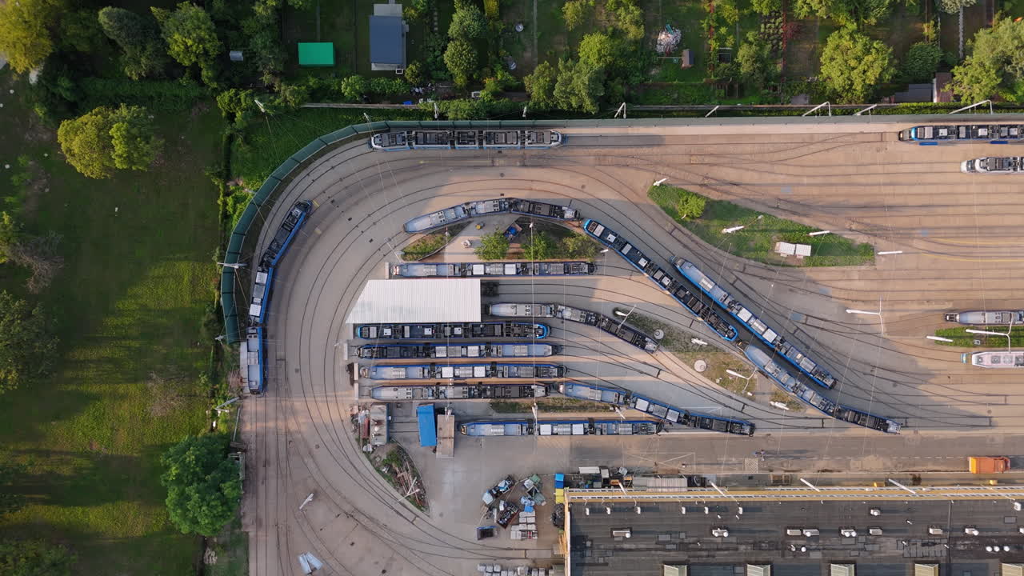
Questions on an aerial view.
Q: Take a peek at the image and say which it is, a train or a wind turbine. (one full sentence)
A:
It is a train that can be seen here.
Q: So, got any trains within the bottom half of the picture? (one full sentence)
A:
Yes, within the bottom half of the picture there is a train.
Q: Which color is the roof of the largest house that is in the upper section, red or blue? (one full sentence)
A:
From above, the roof of the largest house that is in the upper section appears blue.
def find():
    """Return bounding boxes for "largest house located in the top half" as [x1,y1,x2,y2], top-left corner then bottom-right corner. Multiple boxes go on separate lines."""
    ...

[369,4,408,71]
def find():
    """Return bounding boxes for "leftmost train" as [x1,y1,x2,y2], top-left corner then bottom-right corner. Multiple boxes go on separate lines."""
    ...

[245,200,317,393]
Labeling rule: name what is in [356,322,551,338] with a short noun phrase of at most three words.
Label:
train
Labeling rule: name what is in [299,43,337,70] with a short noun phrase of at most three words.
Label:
building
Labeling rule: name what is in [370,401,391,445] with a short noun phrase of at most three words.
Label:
shed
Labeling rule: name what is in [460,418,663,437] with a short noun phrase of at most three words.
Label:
train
